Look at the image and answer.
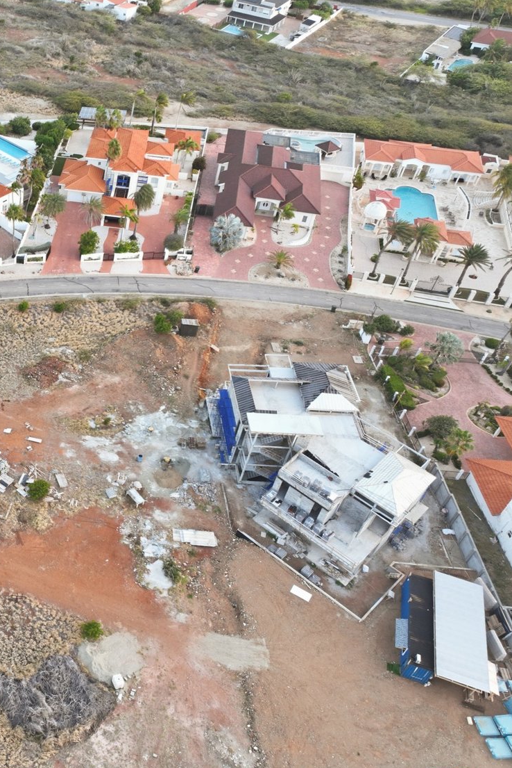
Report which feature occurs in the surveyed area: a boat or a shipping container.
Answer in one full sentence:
It is a shipping container that can be seen here.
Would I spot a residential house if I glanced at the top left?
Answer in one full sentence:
Yes, looking at the top left, one can make out a residential house.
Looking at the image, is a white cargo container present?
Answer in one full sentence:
No, no white cargo container is visible in the scene.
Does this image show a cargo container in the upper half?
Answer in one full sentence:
No, there's no cargo container to be seen in the upper half.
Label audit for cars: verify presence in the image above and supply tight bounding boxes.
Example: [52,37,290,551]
[332,0,343,10]
[290,29,304,39]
